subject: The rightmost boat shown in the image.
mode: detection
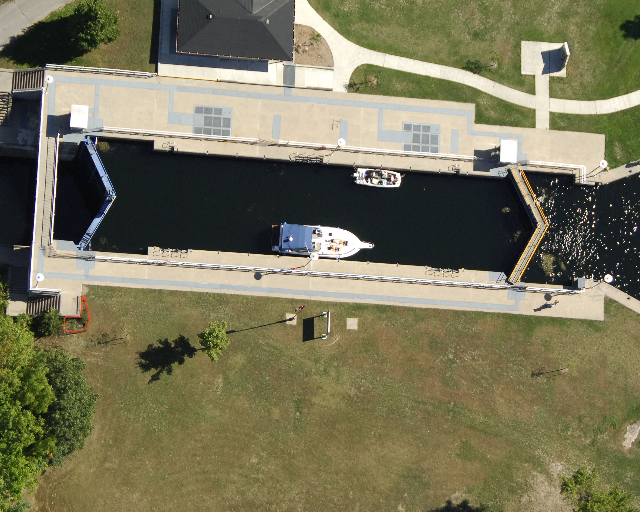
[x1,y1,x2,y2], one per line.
[349,164,407,189]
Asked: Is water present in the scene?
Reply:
Yes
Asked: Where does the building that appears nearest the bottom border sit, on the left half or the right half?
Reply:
right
